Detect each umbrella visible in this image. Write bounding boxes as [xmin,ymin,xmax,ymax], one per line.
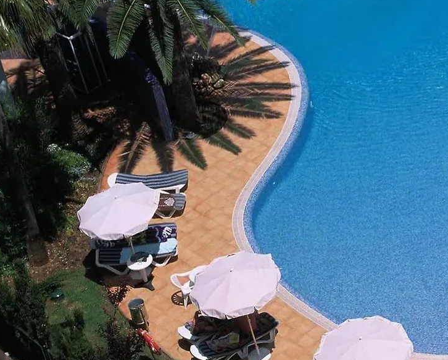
[310,314,418,360]
[190,259,284,335]
[74,184,167,254]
